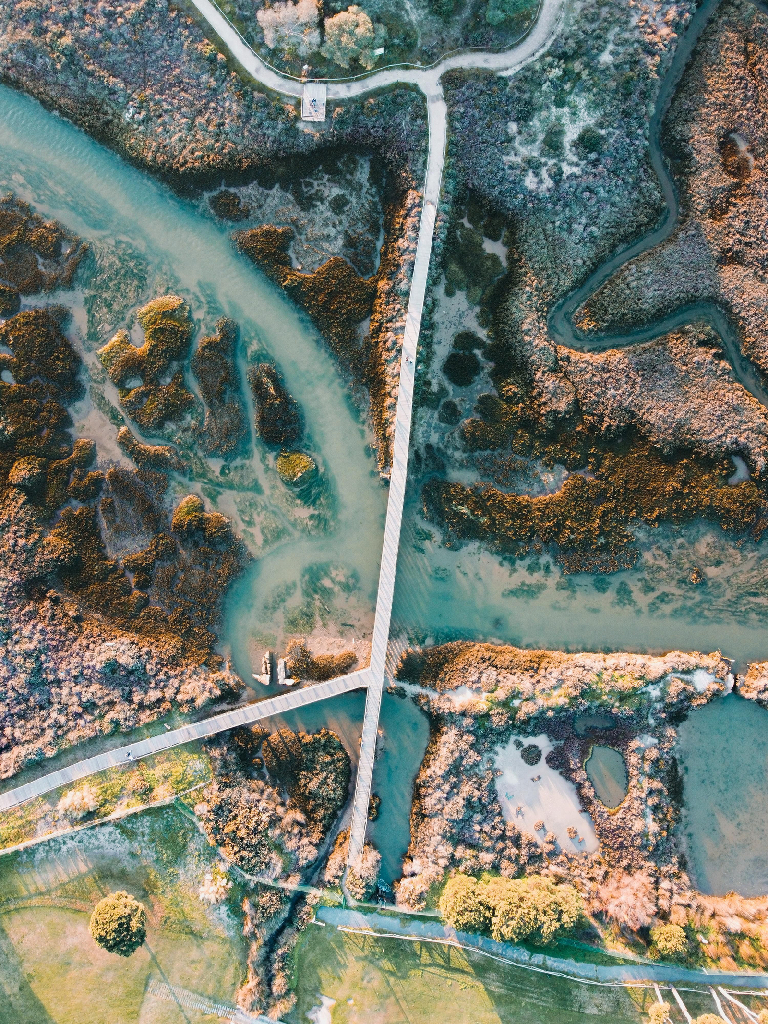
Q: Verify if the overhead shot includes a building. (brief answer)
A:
No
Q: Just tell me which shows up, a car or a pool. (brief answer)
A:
pool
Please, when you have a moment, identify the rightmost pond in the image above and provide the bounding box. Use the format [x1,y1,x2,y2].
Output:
[677,695,768,898]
